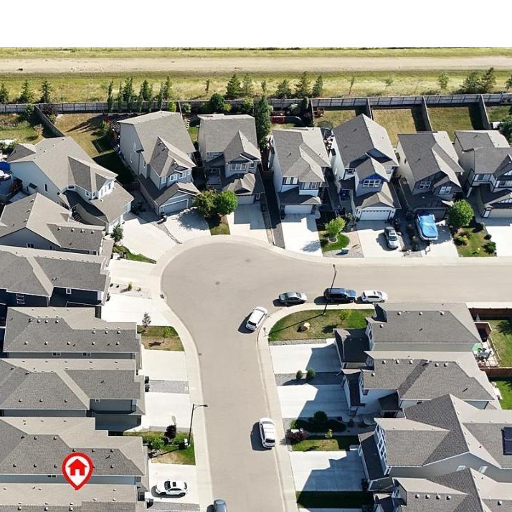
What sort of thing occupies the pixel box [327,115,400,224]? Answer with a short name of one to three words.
house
